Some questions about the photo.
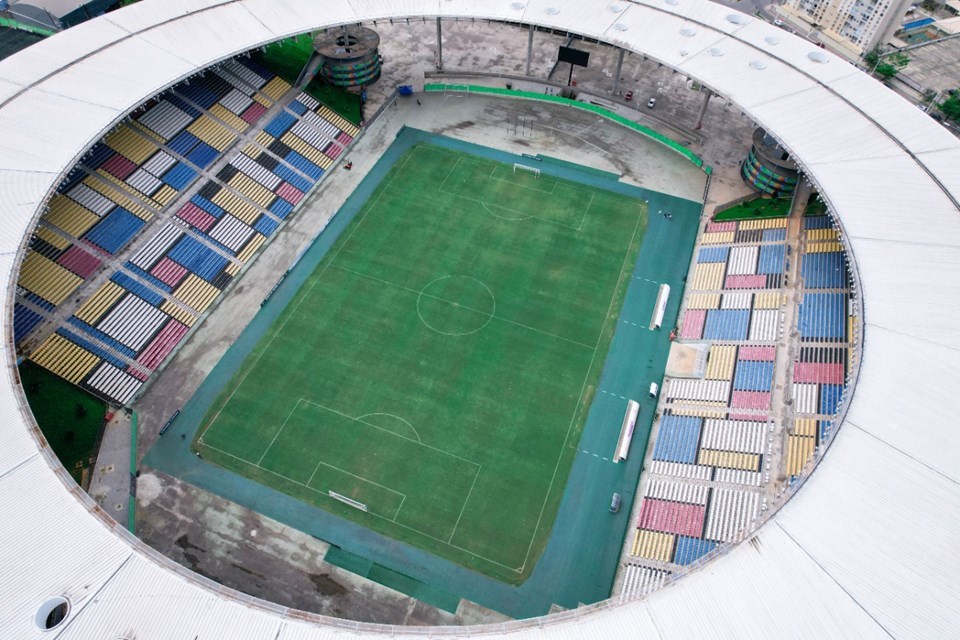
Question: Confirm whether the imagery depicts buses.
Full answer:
No, the photo shows no bus.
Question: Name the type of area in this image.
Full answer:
What you see here is a sports ground.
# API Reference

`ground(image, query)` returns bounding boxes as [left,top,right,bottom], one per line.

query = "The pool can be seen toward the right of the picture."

[897,16,933,31]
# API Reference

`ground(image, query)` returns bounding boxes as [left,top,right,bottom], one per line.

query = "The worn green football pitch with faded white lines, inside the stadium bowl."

[139,127,701,621]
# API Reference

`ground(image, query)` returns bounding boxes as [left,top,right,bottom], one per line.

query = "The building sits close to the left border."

[48,2,138,30]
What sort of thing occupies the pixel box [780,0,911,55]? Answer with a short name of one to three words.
building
